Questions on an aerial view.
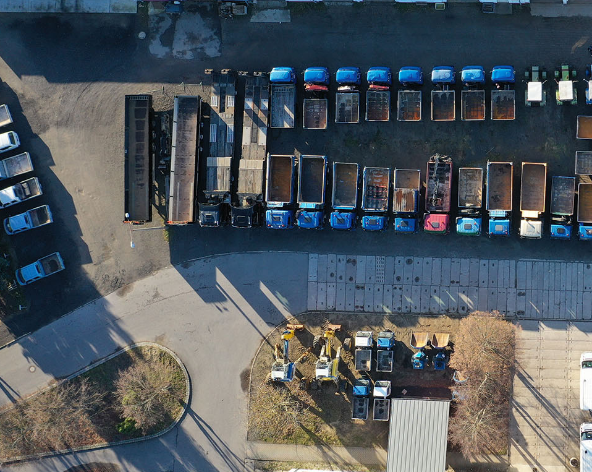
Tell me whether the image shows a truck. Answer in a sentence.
Yes, a truck can be made out from above.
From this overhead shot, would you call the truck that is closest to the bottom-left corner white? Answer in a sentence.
No, the truck that is closest to the bottom-left corner is blue.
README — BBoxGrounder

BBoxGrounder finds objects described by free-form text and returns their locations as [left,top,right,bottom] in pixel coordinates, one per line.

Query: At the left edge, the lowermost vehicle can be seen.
[16,253,68,285]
